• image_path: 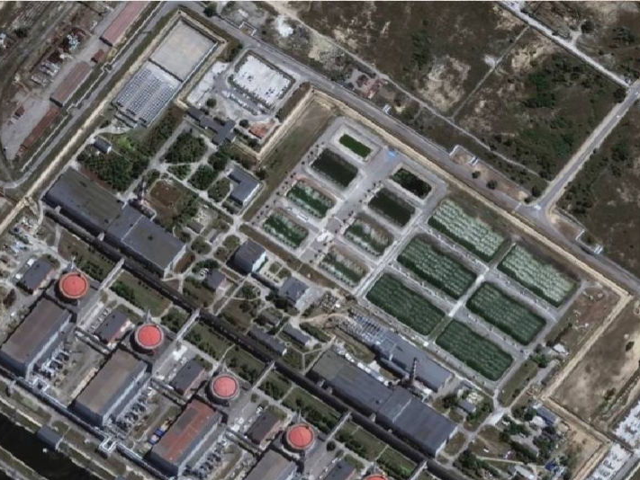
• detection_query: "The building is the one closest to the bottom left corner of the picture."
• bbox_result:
[34,425,70,453]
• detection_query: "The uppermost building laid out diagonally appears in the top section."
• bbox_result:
[99,0,147,47]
